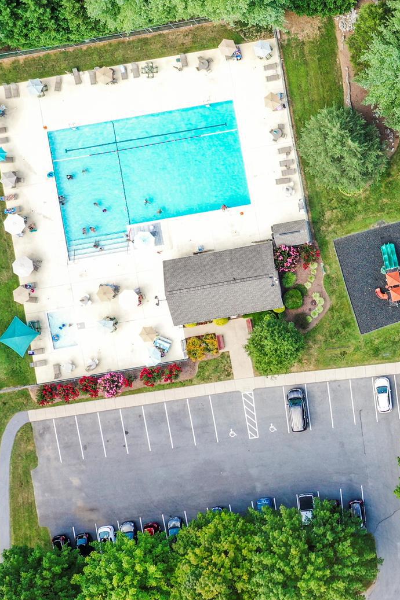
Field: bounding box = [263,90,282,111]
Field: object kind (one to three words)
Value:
umbrella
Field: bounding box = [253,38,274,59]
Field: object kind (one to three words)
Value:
umbrella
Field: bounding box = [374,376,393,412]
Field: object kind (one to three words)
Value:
car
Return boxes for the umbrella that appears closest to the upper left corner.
[26,76,46,97]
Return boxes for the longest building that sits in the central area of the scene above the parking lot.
[159,241,284,325]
